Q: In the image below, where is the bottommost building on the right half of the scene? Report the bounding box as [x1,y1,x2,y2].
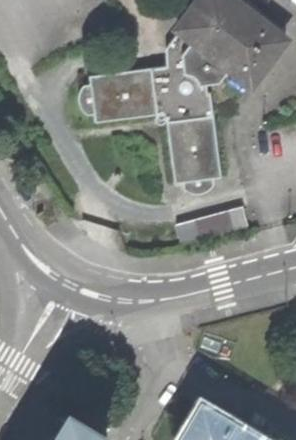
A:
[174,398,274,440]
